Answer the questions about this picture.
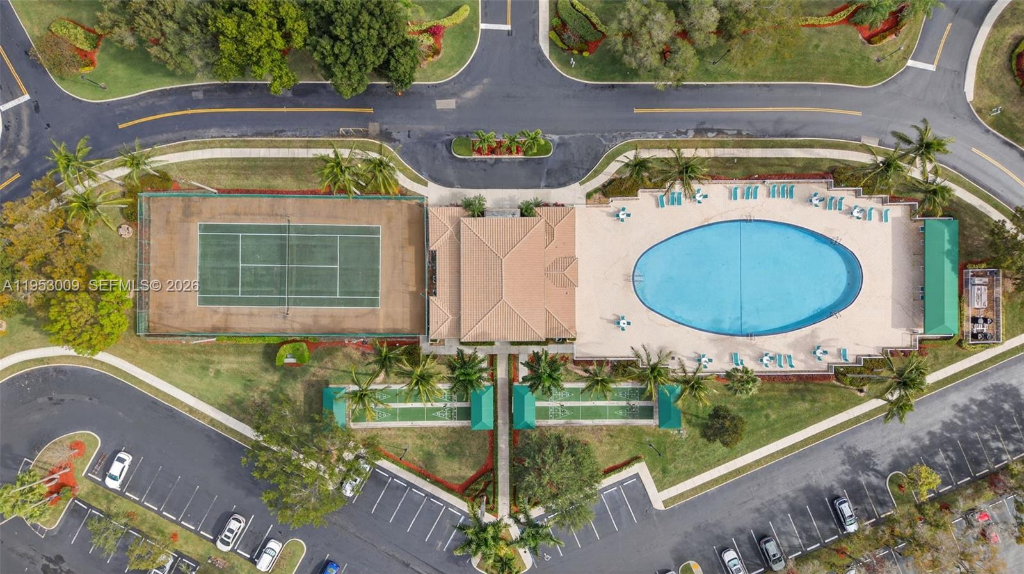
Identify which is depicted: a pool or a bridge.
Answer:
pool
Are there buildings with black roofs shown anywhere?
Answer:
No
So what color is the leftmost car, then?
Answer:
white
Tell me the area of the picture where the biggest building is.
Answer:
center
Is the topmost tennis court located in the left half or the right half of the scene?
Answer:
left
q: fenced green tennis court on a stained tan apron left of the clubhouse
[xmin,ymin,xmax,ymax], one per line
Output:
[149,197,428,334]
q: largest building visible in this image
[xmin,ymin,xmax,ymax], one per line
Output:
[429,206,579,342]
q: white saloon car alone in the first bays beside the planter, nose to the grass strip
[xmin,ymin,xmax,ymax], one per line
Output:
[108,451,134,489]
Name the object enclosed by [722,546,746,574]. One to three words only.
car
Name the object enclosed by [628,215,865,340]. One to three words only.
swimming pool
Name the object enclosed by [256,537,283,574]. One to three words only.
car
